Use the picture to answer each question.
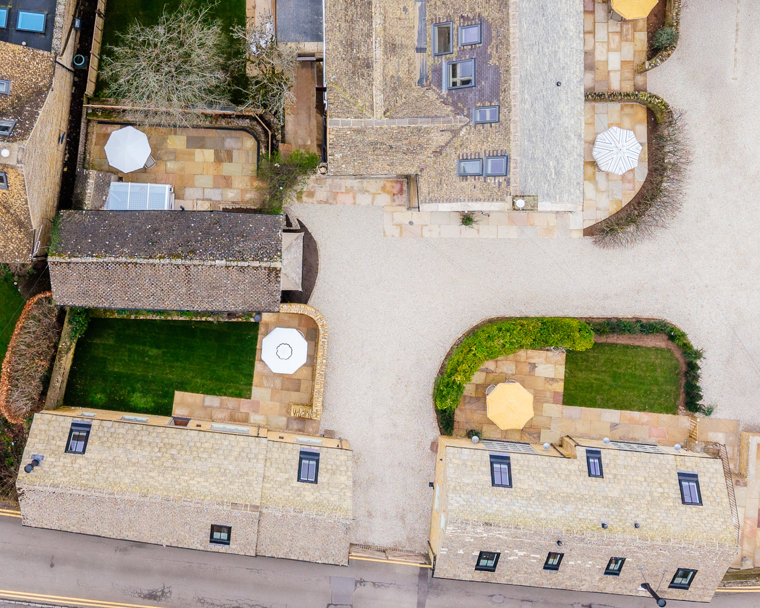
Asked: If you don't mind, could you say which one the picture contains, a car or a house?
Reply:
house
